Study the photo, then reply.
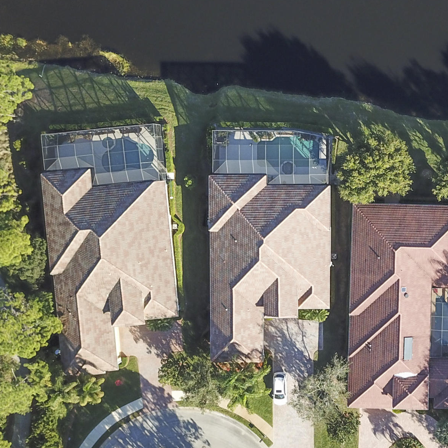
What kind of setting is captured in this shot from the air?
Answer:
residential area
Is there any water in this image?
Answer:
Yes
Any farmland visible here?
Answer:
No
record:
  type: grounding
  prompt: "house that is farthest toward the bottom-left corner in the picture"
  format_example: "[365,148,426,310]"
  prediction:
[38,169,181,377]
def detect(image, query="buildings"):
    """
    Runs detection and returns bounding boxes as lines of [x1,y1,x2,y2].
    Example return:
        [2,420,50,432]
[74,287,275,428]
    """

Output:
[207,175,332,364]
[38,169,181,377]
[347,203,448,411]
